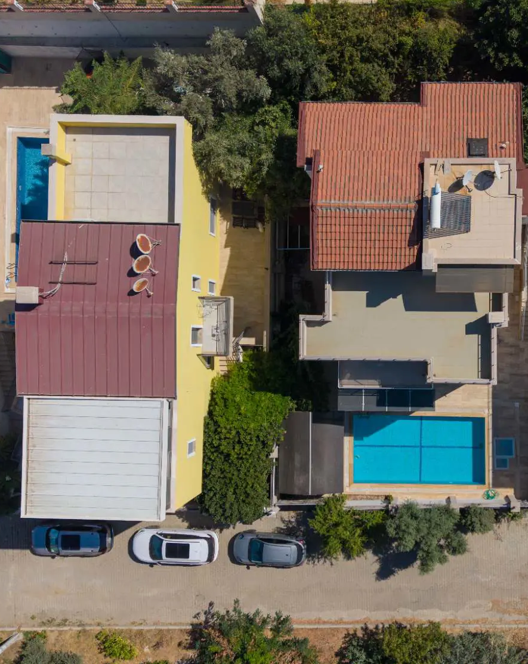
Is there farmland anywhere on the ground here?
No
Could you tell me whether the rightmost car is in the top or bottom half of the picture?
bottom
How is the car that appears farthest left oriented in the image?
from side to side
